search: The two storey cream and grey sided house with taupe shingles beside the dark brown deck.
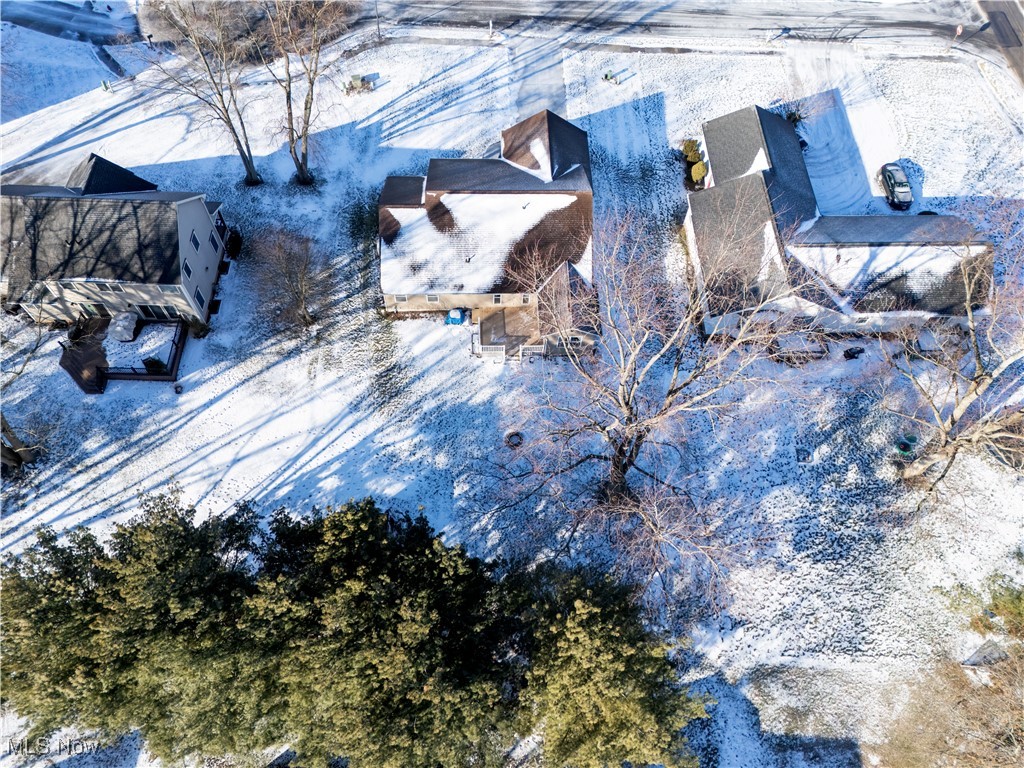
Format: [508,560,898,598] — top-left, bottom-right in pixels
[0,157,232,324]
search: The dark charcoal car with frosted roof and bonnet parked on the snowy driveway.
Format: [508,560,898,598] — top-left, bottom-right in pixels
[877,166,914,210]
